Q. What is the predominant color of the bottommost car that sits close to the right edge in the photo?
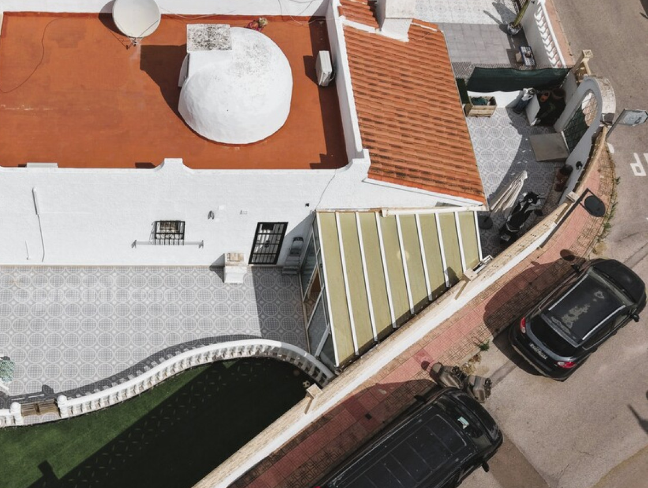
black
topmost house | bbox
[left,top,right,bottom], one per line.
[0,0,490,265]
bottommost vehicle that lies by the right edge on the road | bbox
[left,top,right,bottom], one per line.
[520,253,648,372]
